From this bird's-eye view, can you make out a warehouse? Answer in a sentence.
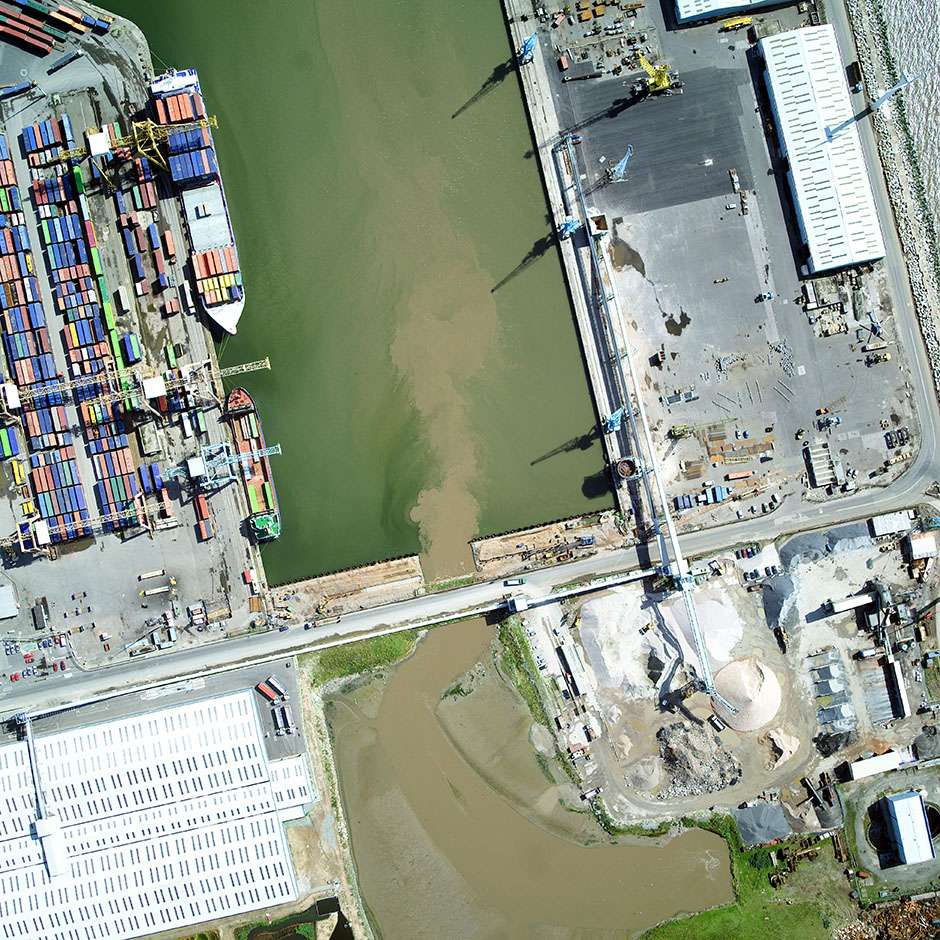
Yes, I can see a warehouse in this picture.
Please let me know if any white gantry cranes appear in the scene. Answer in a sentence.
Yes, a white gantry crane can be made out from above.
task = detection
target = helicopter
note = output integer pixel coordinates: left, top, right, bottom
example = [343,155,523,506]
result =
[870,311,893,340]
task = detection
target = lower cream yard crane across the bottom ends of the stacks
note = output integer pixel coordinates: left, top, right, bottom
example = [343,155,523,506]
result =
[0,492,169,562]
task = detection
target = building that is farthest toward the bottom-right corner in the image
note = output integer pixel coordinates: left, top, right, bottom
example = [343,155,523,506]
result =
[883,786,935,866]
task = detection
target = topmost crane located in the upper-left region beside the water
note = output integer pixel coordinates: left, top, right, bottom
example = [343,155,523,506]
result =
[57,115,218,199]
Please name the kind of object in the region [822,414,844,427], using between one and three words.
vehicle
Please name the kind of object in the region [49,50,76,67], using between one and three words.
vehicle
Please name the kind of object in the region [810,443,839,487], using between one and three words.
building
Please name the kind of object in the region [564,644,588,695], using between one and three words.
shed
